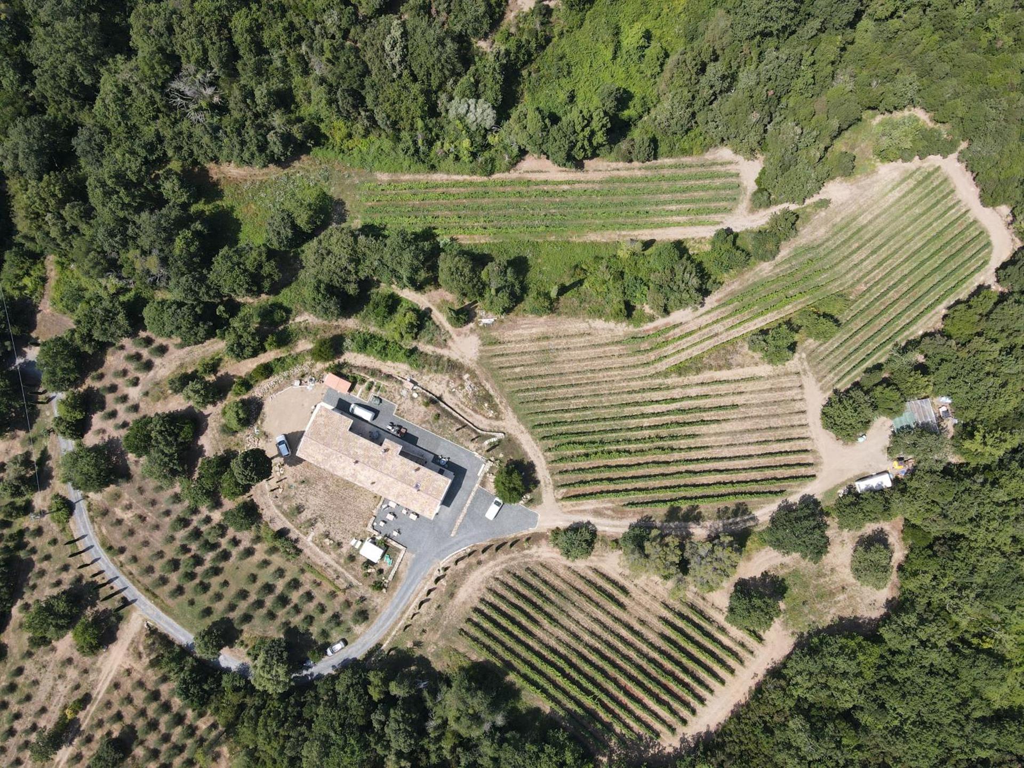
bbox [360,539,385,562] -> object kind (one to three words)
gazebo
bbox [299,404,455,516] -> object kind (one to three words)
house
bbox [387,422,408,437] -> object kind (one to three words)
work vehicle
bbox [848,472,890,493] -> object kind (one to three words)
camper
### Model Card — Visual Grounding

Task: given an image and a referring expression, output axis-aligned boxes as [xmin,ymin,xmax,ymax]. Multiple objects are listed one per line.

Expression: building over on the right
[888,398,940,433]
